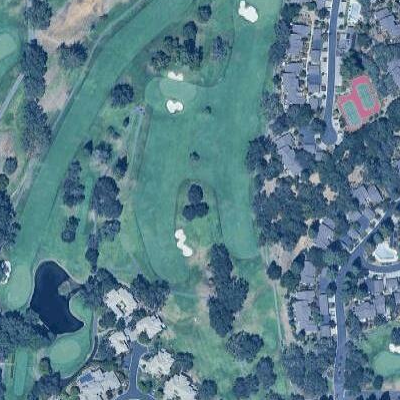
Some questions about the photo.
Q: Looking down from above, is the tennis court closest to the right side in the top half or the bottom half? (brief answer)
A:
top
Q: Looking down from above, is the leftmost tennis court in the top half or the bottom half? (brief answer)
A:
top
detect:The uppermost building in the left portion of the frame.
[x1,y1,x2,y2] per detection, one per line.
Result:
[102,287,137,319]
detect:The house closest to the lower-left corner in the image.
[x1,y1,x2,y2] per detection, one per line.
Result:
[77,366,120,400]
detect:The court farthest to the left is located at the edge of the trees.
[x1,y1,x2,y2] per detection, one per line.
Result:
[337,93,363,132]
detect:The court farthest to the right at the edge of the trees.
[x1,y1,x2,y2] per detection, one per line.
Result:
[351,74,380,122]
